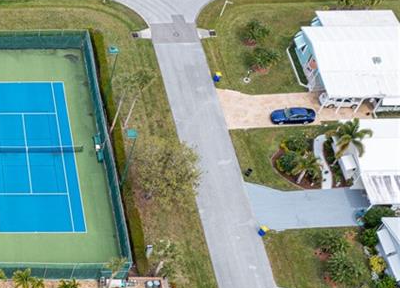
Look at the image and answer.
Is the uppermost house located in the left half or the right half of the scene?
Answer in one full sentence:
It is on the right.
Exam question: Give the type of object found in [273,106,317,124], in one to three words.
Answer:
car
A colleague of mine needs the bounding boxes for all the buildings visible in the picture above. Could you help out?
[379,217,400,286]
[292,10,400,113]
[337,116,400,217]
